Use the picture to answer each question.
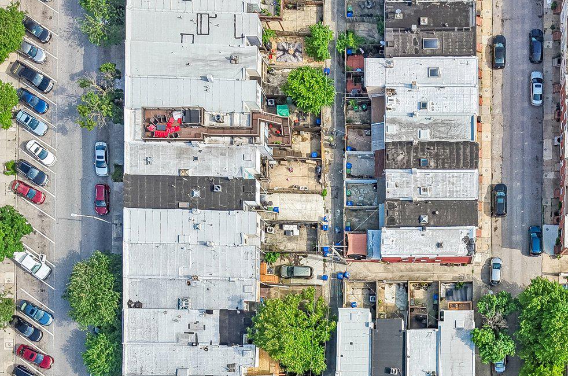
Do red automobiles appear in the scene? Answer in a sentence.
Yes, I can see a red automobile in this picture.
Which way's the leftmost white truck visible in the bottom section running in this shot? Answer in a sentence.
I'd say the leftmost white truck visible in the bottom section is aligned on a diagonal in the picture.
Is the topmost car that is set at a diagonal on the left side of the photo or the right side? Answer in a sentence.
The topmost car that is set at a diagonal appears in the left half of the scene.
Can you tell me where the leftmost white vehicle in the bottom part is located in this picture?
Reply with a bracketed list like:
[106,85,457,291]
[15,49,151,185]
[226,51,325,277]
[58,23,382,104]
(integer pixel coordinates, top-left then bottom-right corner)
[10,248,53,281]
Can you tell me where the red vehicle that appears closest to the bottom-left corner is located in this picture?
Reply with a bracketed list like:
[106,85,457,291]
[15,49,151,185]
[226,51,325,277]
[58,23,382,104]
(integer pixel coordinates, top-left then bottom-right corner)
[19,342,54,369]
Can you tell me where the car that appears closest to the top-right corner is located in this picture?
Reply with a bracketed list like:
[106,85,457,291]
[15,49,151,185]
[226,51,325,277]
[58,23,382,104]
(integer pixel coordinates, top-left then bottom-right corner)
[528,31,545,62]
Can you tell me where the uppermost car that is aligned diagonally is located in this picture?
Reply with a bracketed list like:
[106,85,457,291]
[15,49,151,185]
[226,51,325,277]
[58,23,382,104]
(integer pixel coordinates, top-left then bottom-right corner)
[24,15,56,44]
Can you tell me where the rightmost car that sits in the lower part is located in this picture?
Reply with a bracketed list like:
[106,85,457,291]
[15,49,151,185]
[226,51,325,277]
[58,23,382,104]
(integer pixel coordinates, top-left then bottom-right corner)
[526,226,544,257]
